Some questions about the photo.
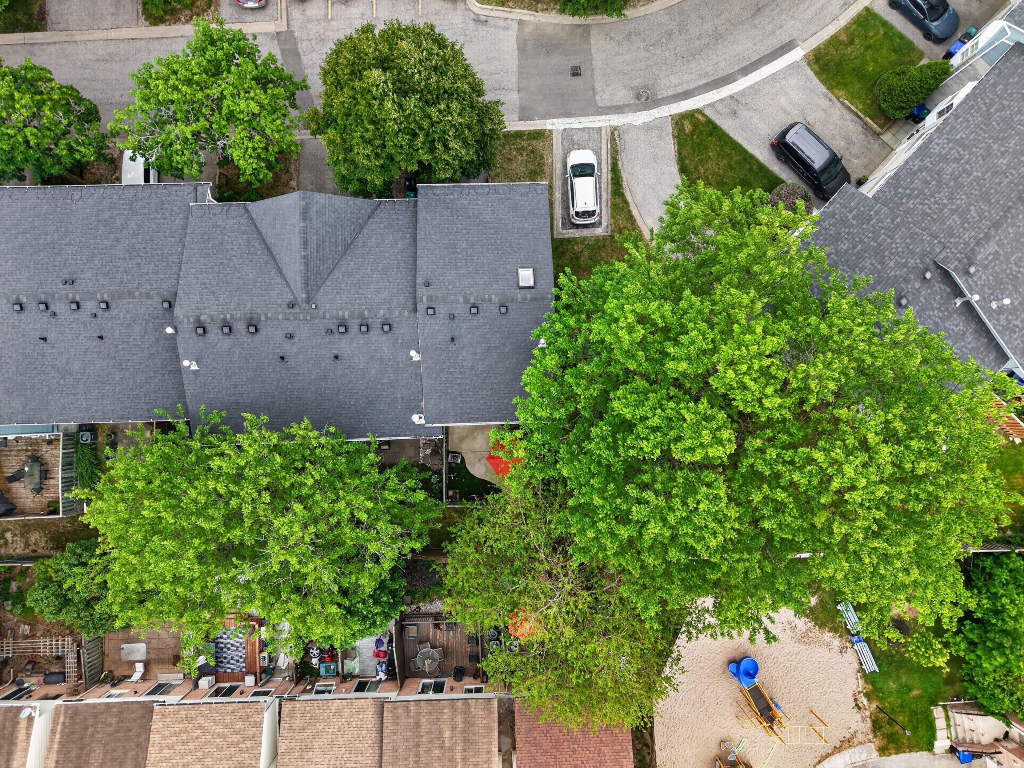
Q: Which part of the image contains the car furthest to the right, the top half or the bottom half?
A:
top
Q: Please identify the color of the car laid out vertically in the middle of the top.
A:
white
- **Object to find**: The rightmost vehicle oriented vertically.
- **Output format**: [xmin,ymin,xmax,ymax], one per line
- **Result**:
[564,149,602,226]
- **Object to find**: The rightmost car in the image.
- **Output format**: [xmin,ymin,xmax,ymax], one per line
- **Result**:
[888,0,964,45]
